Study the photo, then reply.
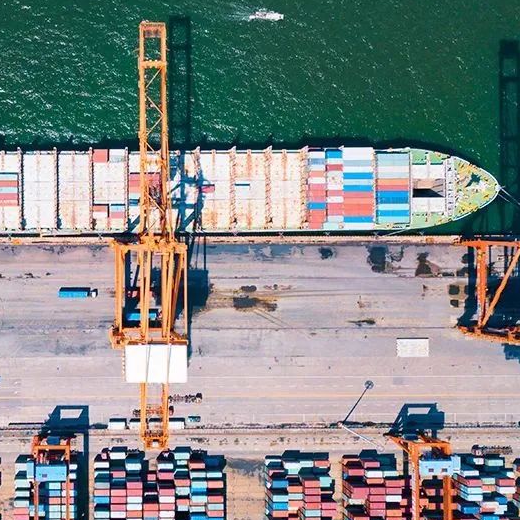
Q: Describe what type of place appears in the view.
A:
port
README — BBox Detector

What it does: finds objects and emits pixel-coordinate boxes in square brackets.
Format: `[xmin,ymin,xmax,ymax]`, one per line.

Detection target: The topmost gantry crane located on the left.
[107,22,184,453]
